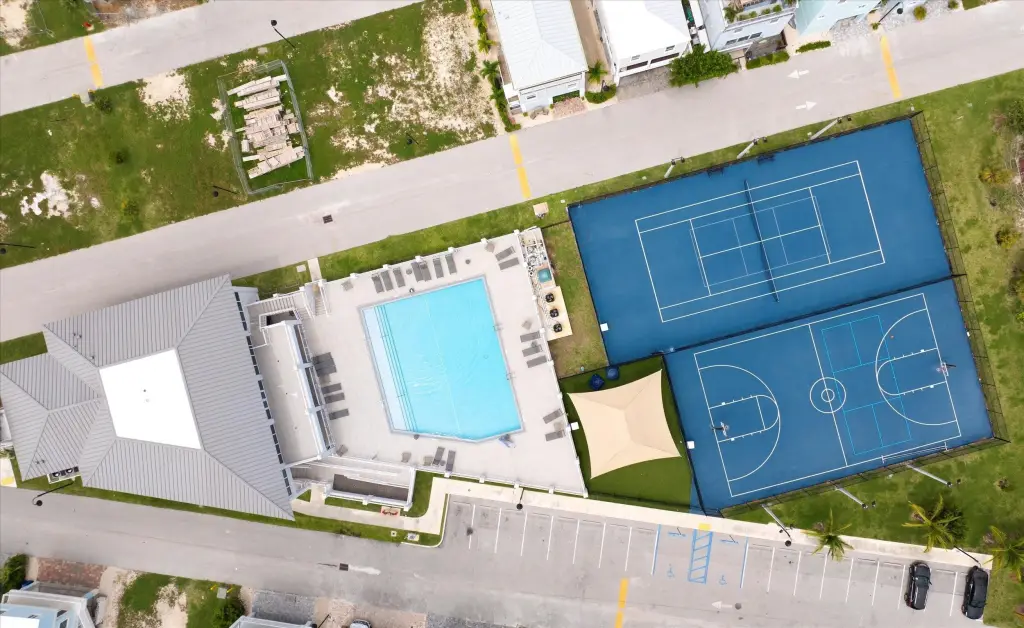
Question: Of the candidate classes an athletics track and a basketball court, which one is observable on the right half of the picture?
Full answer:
Looking on the right half of the picture, you will find a basketball court.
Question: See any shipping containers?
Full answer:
No, I find no shipping container anywhere in the image.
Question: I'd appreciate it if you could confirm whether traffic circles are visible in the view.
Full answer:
No, no traffic circle can be seen from above.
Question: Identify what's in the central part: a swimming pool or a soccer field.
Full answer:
The feature located in the central part is a swimming pool.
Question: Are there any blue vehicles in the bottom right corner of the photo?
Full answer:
No, looking in the bottom right corner of the photo, there is no blue vehicle.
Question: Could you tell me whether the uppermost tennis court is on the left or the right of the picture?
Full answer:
The uppermost tennis court appears in the right half of the scene.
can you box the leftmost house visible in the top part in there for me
[492,0,588,117]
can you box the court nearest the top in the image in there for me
[568,118,951,366]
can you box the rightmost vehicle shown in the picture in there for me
[961,566,989,617]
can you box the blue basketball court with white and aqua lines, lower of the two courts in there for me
[666,279,993,515]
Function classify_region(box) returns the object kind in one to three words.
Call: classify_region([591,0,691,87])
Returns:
house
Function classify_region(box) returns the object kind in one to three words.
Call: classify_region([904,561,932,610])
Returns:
car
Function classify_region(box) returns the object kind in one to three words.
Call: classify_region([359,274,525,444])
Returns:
swimming pool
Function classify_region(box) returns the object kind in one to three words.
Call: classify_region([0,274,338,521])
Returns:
building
